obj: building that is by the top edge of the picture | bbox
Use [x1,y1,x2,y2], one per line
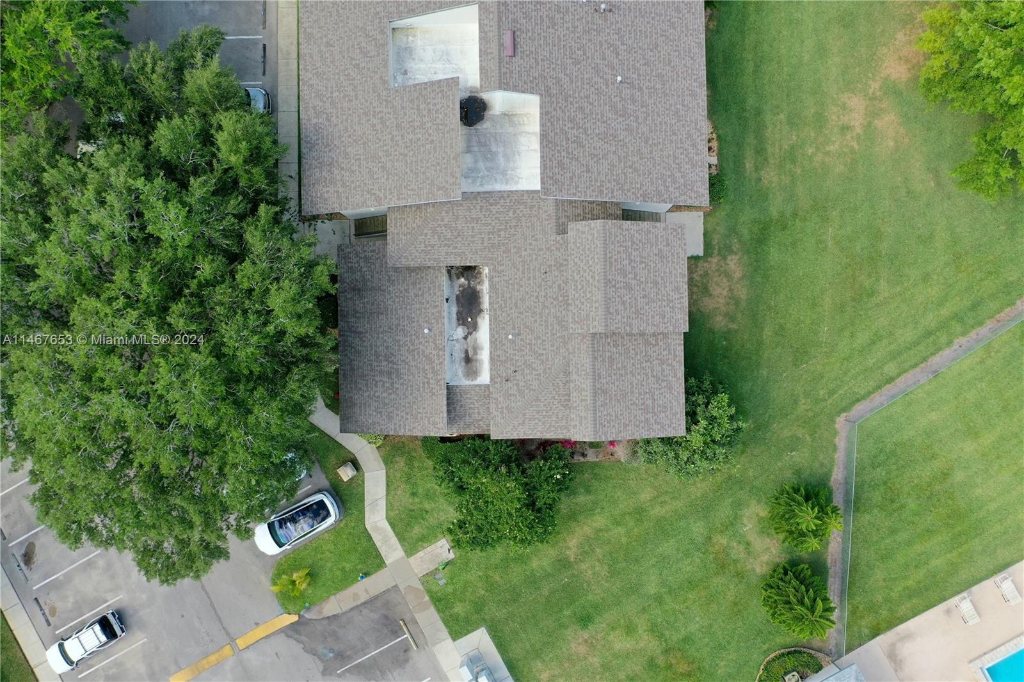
[300,0,710,219]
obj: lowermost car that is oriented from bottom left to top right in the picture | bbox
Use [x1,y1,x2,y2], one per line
[48,606,132,671]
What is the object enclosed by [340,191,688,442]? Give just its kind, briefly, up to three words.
building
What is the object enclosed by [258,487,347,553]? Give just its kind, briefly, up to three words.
car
